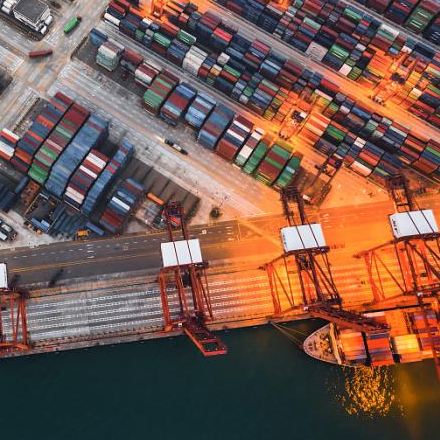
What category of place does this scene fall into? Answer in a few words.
port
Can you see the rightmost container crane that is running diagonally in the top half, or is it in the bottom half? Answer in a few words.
top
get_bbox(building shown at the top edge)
[12,0,52,31]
